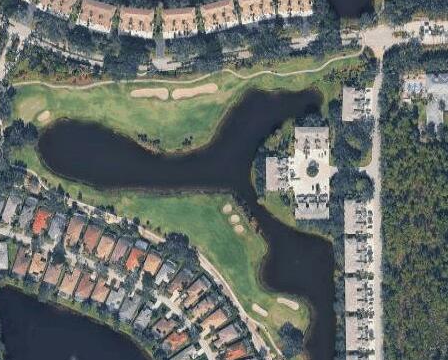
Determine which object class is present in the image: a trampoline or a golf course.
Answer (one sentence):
The image shows a golf course.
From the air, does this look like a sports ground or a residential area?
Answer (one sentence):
This looks like a residential area.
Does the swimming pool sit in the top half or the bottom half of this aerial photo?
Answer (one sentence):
You can find the swimming pool in the top half.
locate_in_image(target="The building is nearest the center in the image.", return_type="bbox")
[267,158,287,191]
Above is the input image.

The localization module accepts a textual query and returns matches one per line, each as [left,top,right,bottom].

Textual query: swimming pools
[402,75,428,97]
